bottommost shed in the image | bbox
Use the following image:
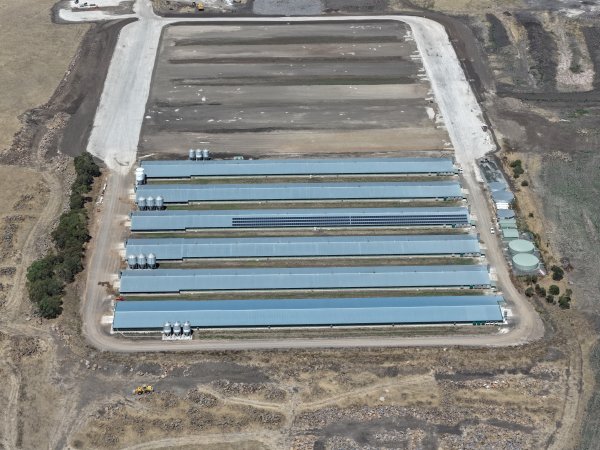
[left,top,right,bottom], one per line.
[103,296,521,333]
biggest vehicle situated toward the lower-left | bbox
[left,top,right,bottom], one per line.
[131,382,152,395]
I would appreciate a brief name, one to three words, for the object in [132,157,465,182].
shed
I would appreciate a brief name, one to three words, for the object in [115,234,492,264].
shed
